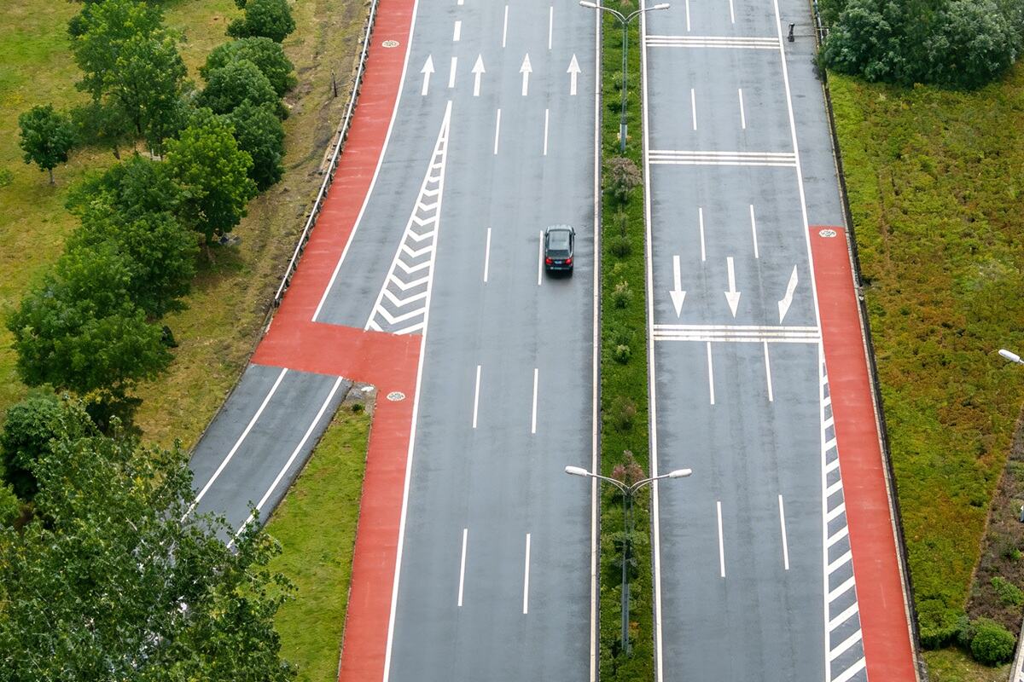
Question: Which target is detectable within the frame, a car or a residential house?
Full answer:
The one in the frame is a car.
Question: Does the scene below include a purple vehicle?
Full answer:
No, the frame has no purple vehicle in it.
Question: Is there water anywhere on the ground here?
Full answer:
No, no water is visible.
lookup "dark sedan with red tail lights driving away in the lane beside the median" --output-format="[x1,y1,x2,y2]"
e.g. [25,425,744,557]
[543,225,577,275]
